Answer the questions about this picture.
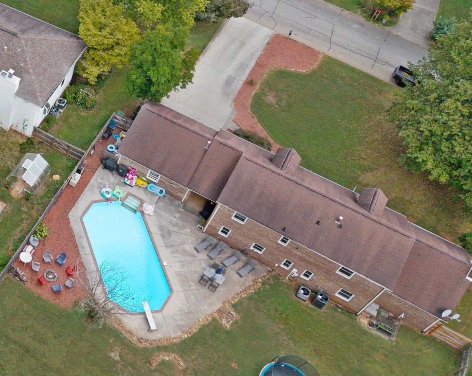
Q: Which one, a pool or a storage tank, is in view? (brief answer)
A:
pool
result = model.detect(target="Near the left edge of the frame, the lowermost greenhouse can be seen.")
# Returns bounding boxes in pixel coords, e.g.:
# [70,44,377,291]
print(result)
[8,151,44,196]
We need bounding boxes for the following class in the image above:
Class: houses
[0,4,90,132]
[116,99,472,332]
